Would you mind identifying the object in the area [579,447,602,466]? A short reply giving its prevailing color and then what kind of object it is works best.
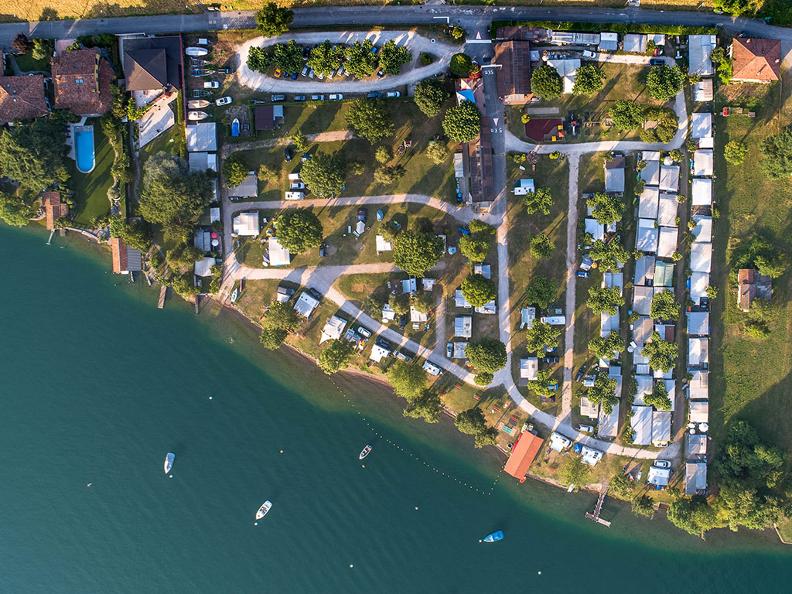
white camper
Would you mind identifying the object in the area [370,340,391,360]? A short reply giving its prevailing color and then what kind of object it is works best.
white camper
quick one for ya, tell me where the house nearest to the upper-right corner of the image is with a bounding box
[730,37,783,82]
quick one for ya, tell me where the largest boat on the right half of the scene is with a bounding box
[483,530,505,542]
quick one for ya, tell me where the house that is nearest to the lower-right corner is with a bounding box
[684,460,706,495]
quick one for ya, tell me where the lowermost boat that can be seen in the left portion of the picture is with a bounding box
[257,500,272,519]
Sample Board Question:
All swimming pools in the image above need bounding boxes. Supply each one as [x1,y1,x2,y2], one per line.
[73,125,96,172]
